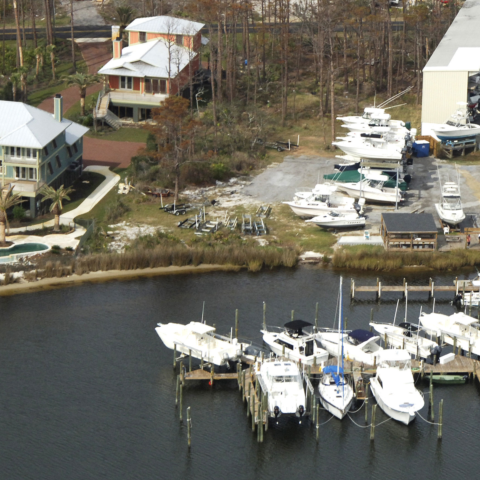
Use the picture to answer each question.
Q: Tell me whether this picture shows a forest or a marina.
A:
marina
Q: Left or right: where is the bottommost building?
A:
right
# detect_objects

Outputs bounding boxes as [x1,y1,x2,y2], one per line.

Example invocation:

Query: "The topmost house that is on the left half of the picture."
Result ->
[83,13,214,130]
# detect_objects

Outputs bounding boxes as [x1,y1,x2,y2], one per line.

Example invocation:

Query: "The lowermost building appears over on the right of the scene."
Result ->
[384,211,438,253]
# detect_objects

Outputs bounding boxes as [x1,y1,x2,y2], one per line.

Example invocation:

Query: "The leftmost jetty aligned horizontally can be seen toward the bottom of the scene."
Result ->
[183,365,241,388]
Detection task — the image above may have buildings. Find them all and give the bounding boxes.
[421,0,480,135]
[384,211,438,253]
[0,88,97,223]
[83,13,214,130]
